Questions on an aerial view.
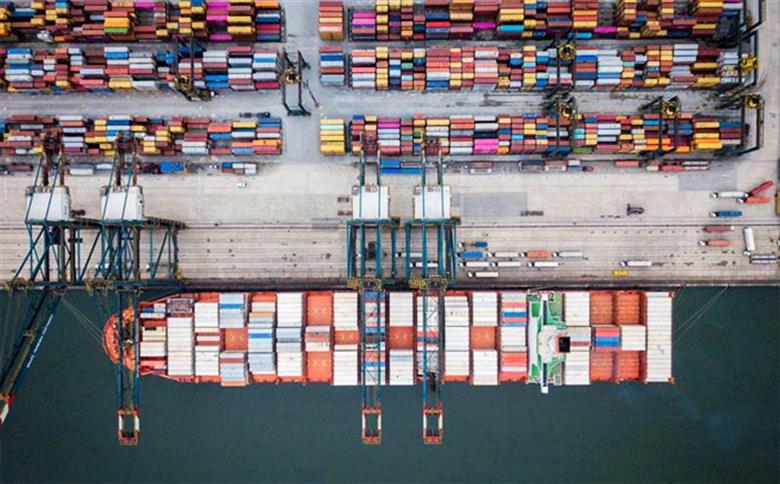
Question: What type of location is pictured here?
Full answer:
The area seen from above is a port.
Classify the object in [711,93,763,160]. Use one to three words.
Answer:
container crane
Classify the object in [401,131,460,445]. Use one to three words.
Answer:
container crane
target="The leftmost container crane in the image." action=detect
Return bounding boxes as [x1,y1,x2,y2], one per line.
[0,131,133,444]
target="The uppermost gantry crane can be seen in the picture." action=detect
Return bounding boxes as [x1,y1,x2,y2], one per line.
[714,0,766,40]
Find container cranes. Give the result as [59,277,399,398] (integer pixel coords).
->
[401,131,460,445]
[711,93,763,160]
[0,131,133,444]
[280,49,310,115]
[542,95,577,160]
[542,34,577,104]
[174,36,213,105]
[75,131,197,445]
[347,131,401,445]
[637,94,682,159]
[714,0,766,40]
[710,29,762,97]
